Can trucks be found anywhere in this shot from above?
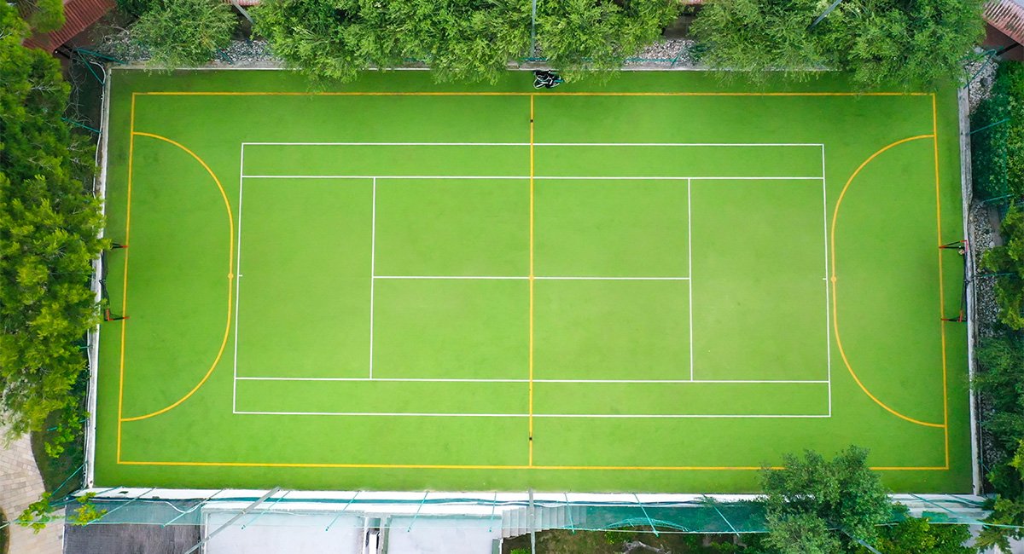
No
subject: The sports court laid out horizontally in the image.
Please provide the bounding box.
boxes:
[94,69,973,494]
